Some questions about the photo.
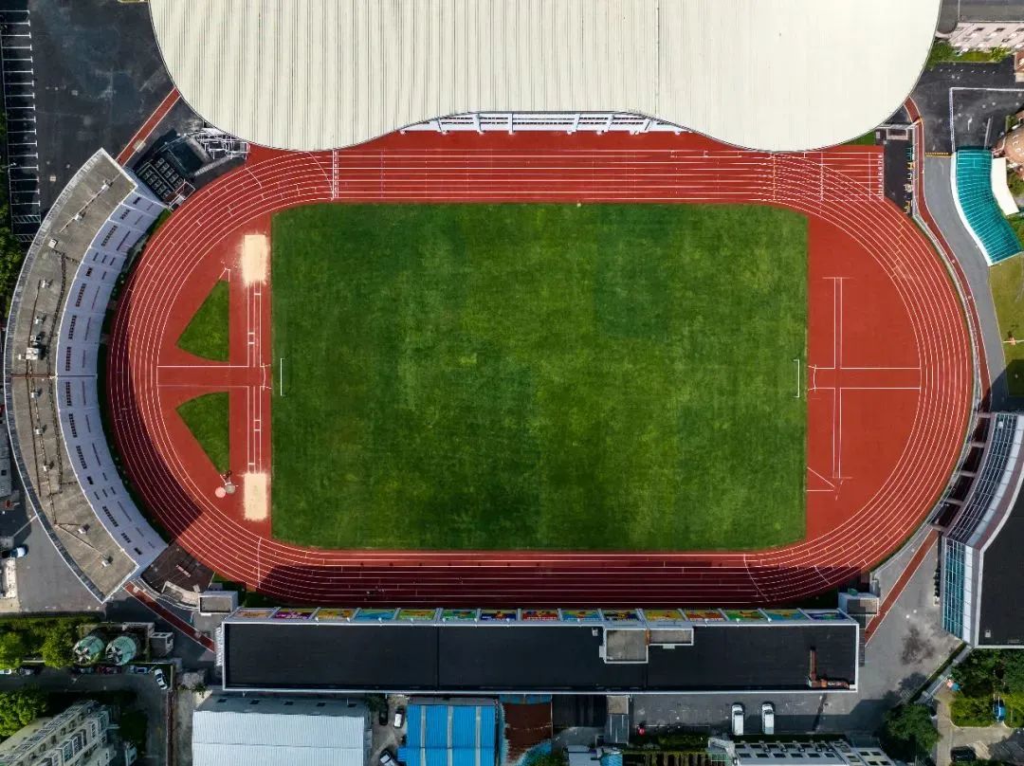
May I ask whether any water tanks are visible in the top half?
No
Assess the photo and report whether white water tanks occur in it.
No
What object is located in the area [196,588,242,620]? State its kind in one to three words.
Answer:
shed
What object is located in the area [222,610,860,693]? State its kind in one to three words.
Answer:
building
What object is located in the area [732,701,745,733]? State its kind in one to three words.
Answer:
vehicle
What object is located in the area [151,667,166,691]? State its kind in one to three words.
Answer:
car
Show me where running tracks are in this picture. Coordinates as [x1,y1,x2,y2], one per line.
[106,131,972,606]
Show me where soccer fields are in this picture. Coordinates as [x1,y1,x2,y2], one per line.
[271,202,808,552]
